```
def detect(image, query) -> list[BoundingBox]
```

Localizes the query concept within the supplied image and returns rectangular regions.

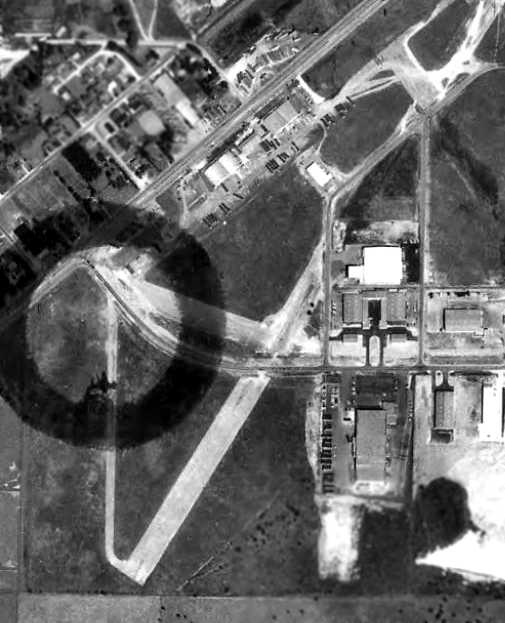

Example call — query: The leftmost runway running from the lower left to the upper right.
[106,378,270,584]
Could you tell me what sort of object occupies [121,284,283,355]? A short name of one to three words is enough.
runway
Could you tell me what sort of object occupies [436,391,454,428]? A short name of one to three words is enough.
shed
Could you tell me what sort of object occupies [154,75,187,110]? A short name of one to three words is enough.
building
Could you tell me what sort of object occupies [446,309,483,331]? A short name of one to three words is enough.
building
